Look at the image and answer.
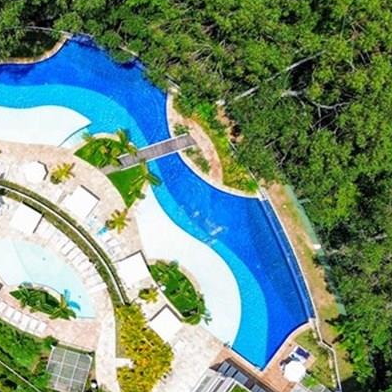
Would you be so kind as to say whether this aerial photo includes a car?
No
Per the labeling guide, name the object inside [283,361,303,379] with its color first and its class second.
white umbrella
